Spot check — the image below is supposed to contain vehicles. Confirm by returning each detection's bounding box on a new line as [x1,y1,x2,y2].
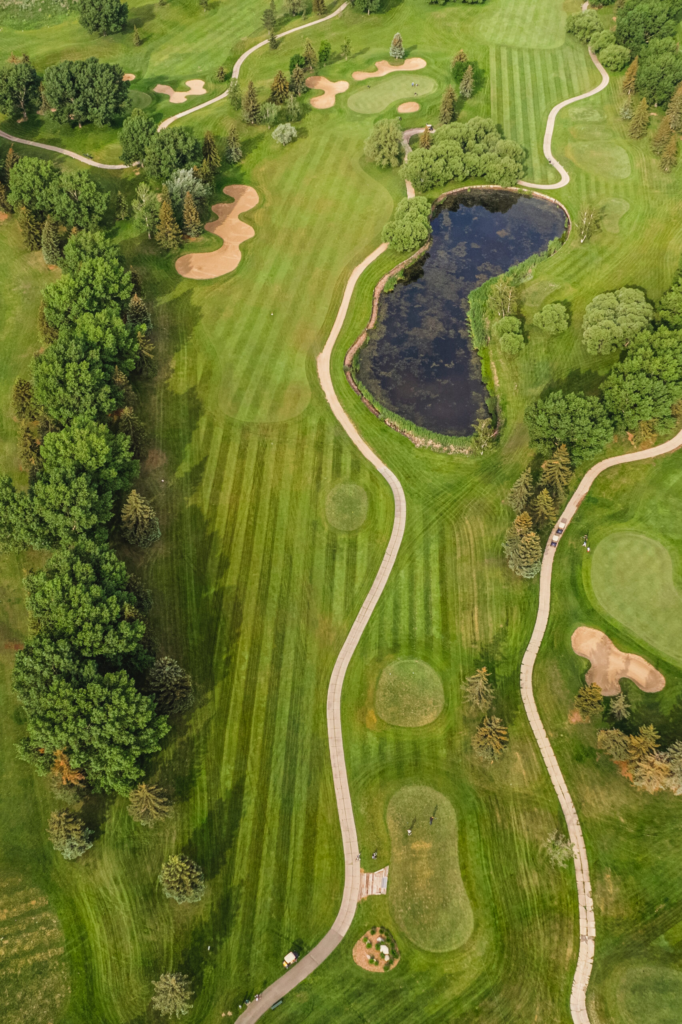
[555,520,565,534]
[425,122,433,131]
[549,532,559,547]
[280,948,299,968]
